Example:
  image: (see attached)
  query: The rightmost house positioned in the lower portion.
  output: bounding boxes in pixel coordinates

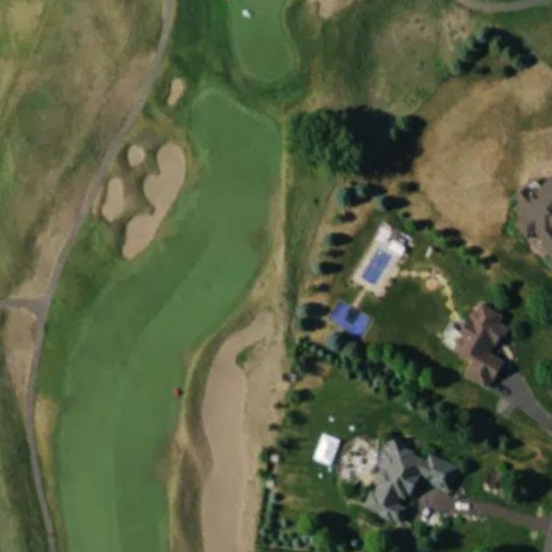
[453,300,511,388]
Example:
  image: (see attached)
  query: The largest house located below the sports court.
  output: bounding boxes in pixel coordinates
[358,435,458,526]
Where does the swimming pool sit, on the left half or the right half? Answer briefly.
right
